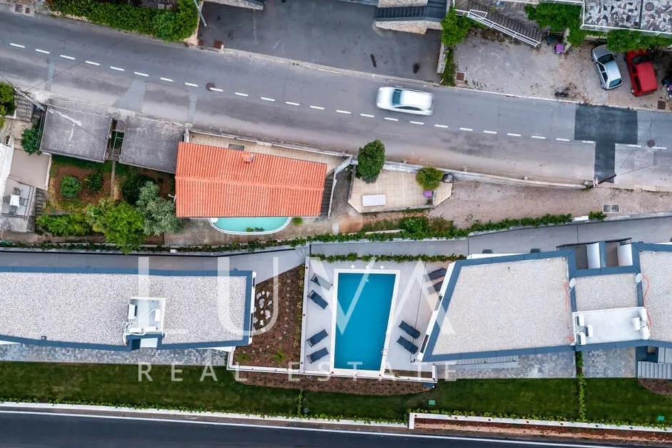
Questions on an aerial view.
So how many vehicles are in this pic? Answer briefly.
3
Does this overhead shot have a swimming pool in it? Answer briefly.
Yes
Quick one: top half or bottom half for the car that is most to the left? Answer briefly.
top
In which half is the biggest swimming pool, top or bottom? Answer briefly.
bottom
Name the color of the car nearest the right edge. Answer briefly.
red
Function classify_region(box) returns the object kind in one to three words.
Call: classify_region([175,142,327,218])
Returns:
house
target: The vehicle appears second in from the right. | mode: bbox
[592,44,629,92]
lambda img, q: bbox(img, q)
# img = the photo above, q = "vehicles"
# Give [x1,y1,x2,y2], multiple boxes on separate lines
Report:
[377,83,435,114]
[592,44,629,92]
[627,47,662,98]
